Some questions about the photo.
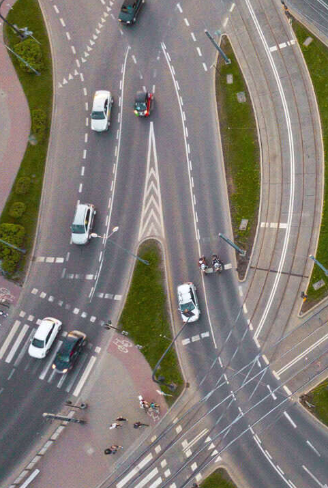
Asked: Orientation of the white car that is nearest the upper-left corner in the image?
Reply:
vertically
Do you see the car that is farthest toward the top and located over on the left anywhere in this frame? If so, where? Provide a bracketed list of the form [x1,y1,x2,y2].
[117,0,145,25]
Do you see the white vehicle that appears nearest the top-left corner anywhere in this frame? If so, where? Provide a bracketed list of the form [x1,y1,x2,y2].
[91,91,114,131]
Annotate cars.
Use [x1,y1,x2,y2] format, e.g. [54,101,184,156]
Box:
[29,315,61,361]
[117,0,145,25]
[71,204,96,245]
[53,330,86,375]
[133,91,153,116]
[177,279,200,325]
[91,91,114,131]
